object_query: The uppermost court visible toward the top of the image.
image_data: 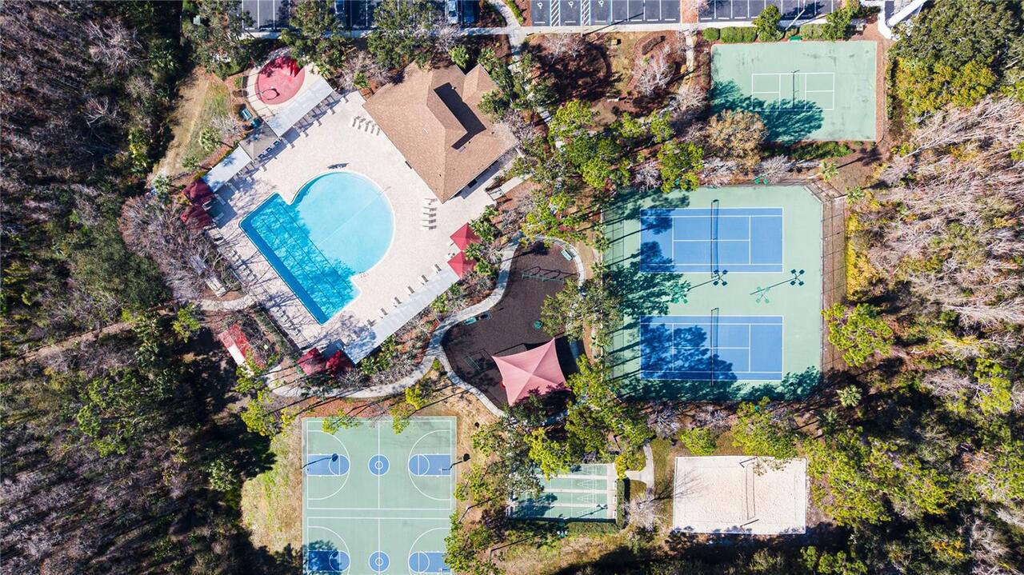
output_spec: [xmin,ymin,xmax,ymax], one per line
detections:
[711,41,877,143]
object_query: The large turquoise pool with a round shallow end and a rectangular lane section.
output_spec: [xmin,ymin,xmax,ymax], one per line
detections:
[239,170,395,326]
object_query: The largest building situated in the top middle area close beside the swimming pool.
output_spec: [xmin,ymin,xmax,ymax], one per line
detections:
[363,45,517,203]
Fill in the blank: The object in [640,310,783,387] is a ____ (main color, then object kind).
blue tennis court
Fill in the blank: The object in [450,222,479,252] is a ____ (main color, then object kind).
red umbrella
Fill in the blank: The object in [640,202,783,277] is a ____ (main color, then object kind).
blue tennis court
